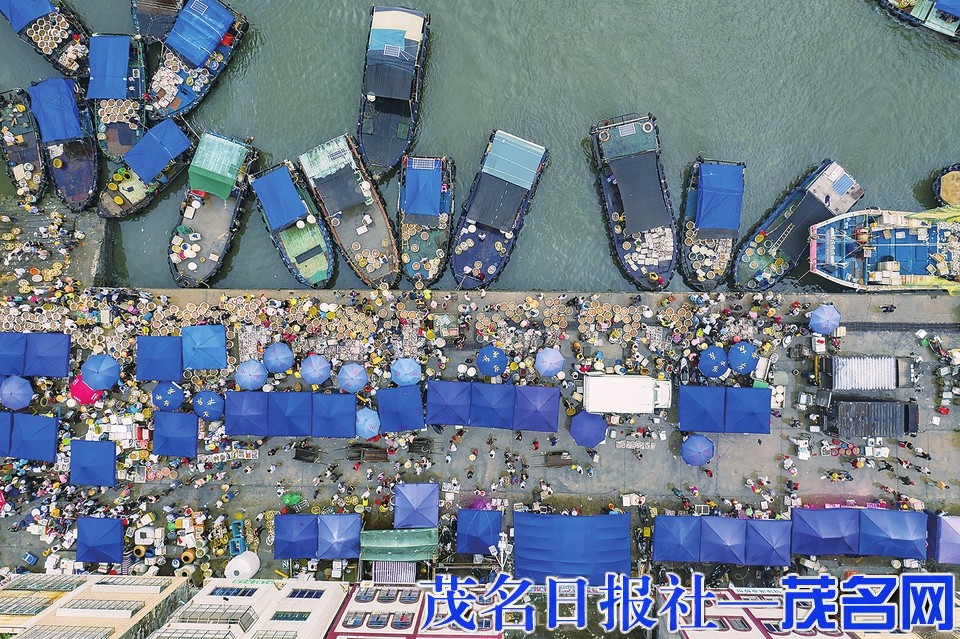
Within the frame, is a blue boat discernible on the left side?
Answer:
Yes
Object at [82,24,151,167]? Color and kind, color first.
blue boat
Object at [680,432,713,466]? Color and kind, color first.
blue umbrella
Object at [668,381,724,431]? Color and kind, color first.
blue tent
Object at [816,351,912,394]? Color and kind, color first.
white truck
